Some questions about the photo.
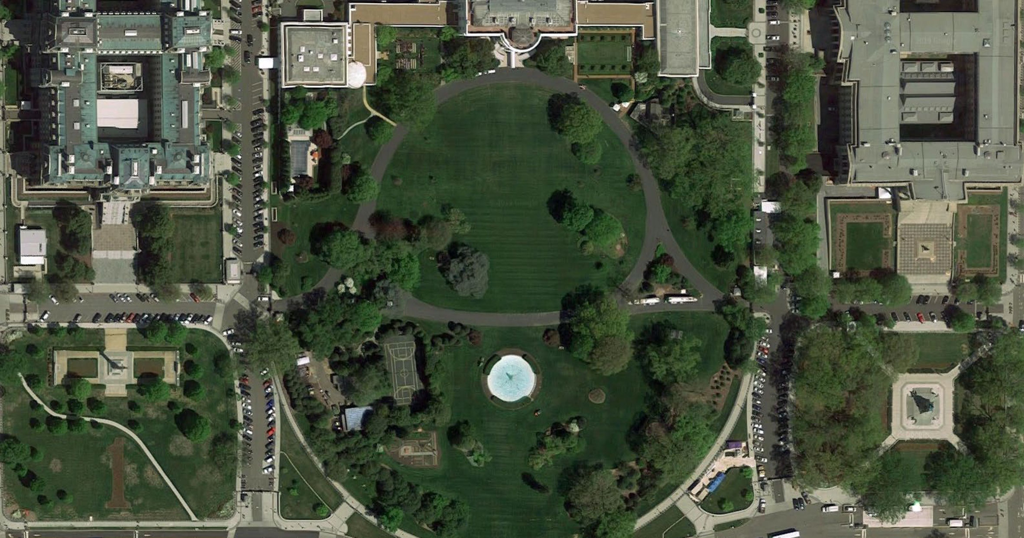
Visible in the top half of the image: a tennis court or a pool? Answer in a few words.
pool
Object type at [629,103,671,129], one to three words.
building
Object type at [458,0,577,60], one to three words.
house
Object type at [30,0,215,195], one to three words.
building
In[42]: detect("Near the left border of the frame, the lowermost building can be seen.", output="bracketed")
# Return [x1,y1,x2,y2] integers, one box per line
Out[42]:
[14,226,47,278]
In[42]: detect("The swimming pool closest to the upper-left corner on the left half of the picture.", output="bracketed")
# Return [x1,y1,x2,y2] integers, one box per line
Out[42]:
[288,137,320,183]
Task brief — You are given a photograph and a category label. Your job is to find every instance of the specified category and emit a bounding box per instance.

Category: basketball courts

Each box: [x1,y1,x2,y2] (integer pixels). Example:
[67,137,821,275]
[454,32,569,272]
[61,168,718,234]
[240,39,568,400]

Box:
[382,334,422,405]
